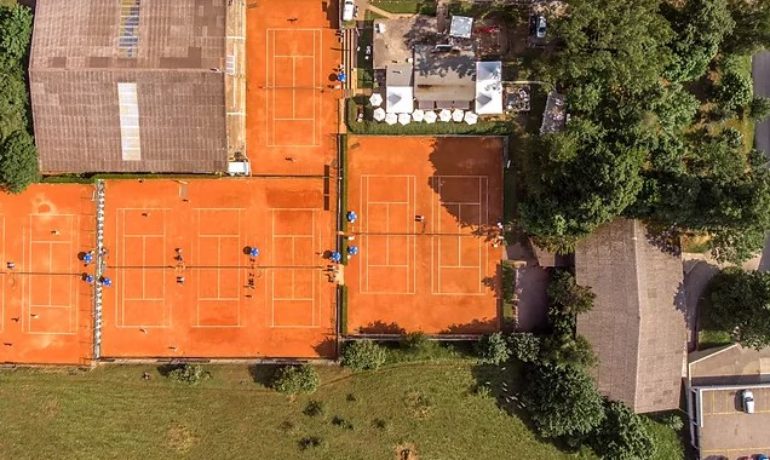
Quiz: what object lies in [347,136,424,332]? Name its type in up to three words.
tennis court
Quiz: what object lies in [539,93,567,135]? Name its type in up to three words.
shed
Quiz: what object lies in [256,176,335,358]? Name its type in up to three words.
tennis court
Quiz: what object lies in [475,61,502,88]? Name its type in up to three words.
tent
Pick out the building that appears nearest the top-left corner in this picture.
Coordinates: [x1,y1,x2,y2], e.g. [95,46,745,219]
[29,0,233,176]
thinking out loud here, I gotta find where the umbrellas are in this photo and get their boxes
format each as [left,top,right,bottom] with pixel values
[374,108,386,121]
[331,251,341,262]
[349,245,359,255]
[338,72,348,83]
[399,113,411,125]
[464,112,477,123]
[102,277,114,286]
[86,274,97,283]
[385,113,397,126]
[440,109,452,123]
[347,211,358,222]
[452,110,464,121]
[83,253,95,263]
[423,110,435,123]
[369,92,381,106]
[250,247,259,257]
[412,110,423,122]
